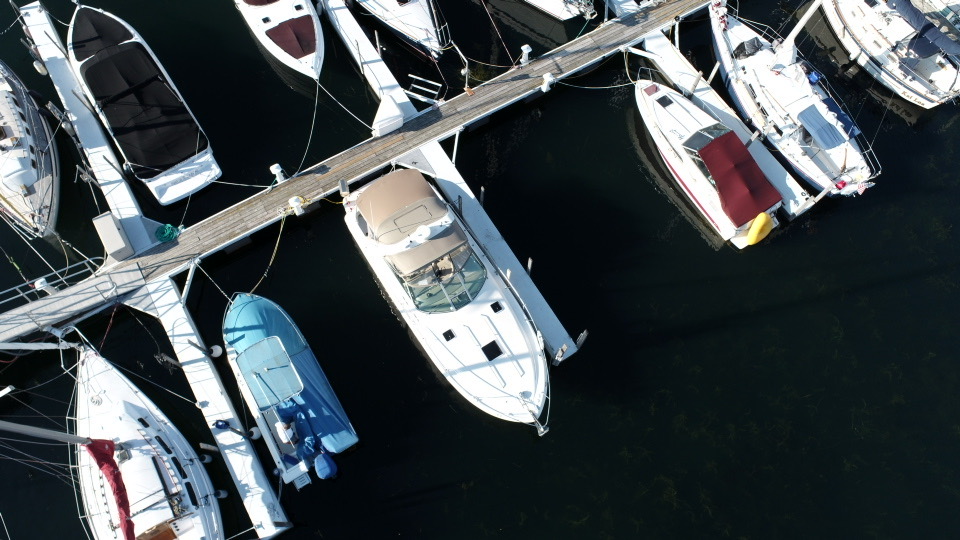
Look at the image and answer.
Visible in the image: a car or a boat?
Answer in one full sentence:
The one in the frame is a boat.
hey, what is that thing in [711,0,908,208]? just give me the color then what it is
white boat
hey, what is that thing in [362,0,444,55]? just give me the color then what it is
white boat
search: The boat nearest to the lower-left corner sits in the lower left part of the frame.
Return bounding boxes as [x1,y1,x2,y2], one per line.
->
[0,329,237,540]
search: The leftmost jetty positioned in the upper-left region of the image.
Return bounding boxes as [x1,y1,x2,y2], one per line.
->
[20,1,153,258]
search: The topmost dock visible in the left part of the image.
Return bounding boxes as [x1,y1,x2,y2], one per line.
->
[322,0,418,121]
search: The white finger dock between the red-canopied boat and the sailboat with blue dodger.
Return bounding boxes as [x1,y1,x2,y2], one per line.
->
[640,32,818,219]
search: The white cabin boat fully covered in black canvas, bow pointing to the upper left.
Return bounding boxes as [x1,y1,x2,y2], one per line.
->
[68,0,224,214]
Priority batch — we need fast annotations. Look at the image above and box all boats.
[231,0,323,81]
[0,57,68,240]
[524,0,593,34]
[362,0,444,55]
[906,0,960,56]
[639,64,792,251]
[0,329,237,540]
[823,0,960,116]
[224,286,358,490]
[68,0,224,214]
[340,157,552,437]
[711,0,908,208]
